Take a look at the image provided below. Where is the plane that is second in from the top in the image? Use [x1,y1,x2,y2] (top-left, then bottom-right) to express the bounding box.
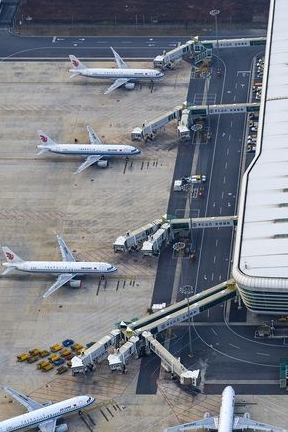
[36,124,139,174]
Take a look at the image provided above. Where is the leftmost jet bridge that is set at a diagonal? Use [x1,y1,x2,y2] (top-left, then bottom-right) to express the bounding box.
[67,329,122,376]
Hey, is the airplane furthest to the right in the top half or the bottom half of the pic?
bottom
